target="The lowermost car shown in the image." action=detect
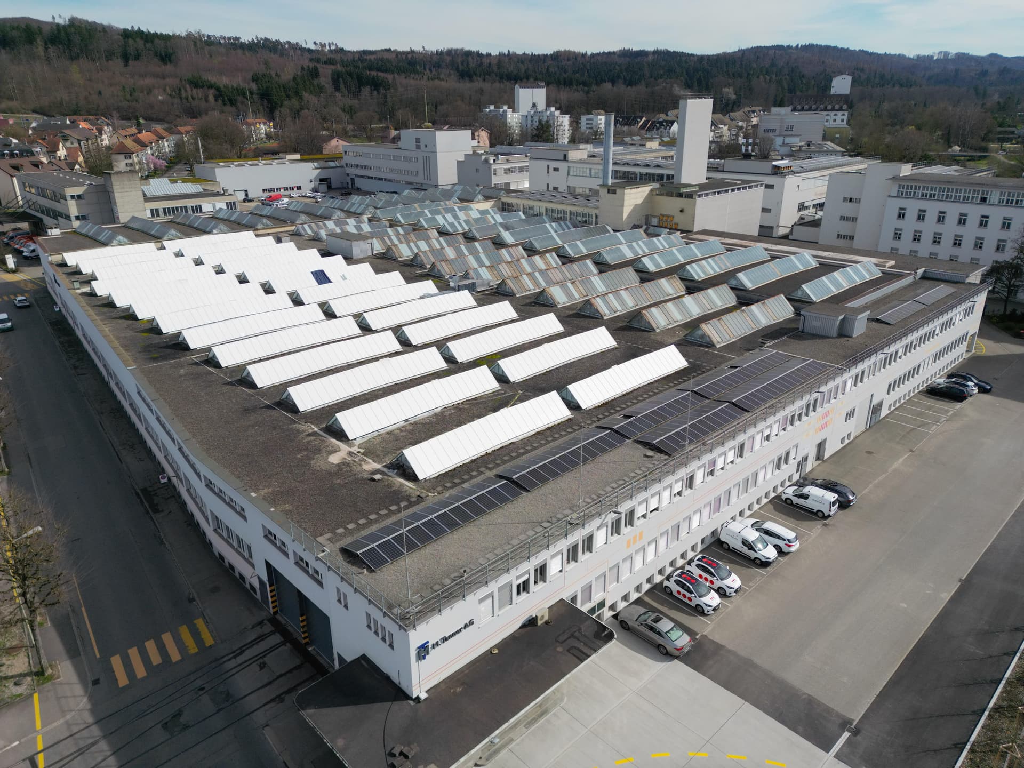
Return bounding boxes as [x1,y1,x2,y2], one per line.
[615,602,695,657]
